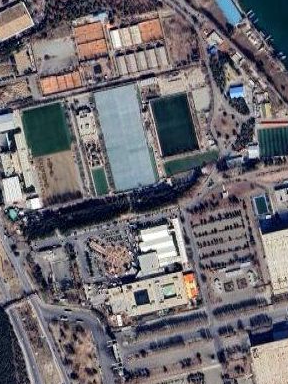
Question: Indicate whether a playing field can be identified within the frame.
Yes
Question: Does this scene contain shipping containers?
No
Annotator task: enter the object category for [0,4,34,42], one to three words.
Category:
building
